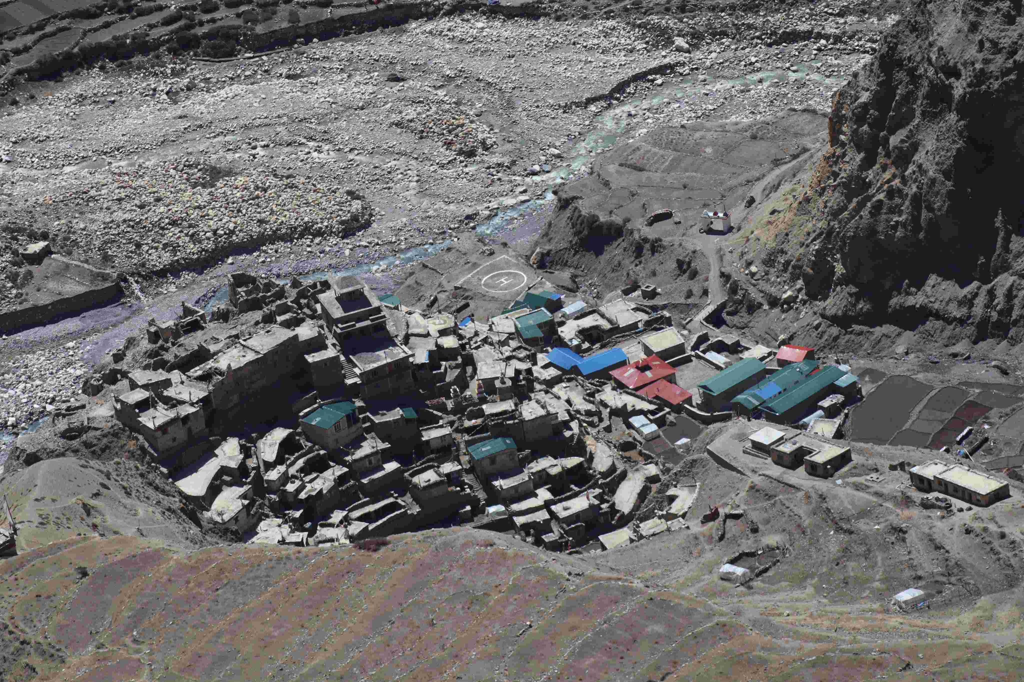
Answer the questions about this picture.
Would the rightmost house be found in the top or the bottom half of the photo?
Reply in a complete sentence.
You can find the rightmost house in the bottom half.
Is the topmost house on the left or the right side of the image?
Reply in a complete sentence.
The topmost house sits on the left side.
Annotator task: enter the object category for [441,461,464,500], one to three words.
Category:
house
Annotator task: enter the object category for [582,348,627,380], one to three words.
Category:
house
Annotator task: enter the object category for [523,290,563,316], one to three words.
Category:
shed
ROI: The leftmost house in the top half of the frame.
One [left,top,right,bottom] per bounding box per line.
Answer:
[20,241,51,264]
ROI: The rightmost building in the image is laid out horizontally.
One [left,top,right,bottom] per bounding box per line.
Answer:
[934,463,1008,507]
